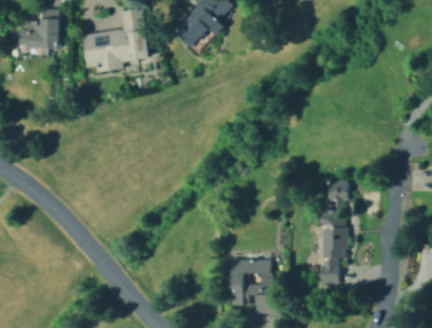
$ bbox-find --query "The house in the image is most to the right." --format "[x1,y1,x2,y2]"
[320,180,350,286]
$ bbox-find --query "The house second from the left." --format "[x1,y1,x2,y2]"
[83,10,148,74]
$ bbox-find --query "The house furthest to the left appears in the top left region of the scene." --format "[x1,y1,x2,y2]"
[18,8,60,50]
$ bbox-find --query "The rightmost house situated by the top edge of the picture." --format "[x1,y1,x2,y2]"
[182,0,234,44]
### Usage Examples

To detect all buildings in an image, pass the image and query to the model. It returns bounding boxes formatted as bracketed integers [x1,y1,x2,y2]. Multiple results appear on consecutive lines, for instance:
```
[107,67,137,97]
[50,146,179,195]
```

[230,258,274,306]
[18,8,60,50]
[320,180,350,286]
[182,0,234,44]
[83,10,148,74]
